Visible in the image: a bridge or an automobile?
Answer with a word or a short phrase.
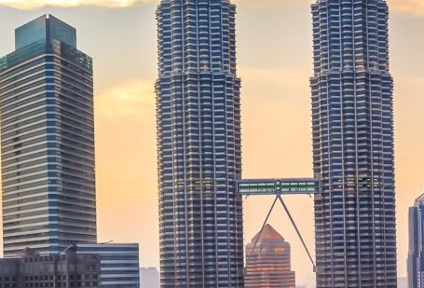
bridge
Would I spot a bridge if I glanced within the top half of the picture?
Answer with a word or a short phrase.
No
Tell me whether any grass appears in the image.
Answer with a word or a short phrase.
No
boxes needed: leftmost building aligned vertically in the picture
[0,17,95,257]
